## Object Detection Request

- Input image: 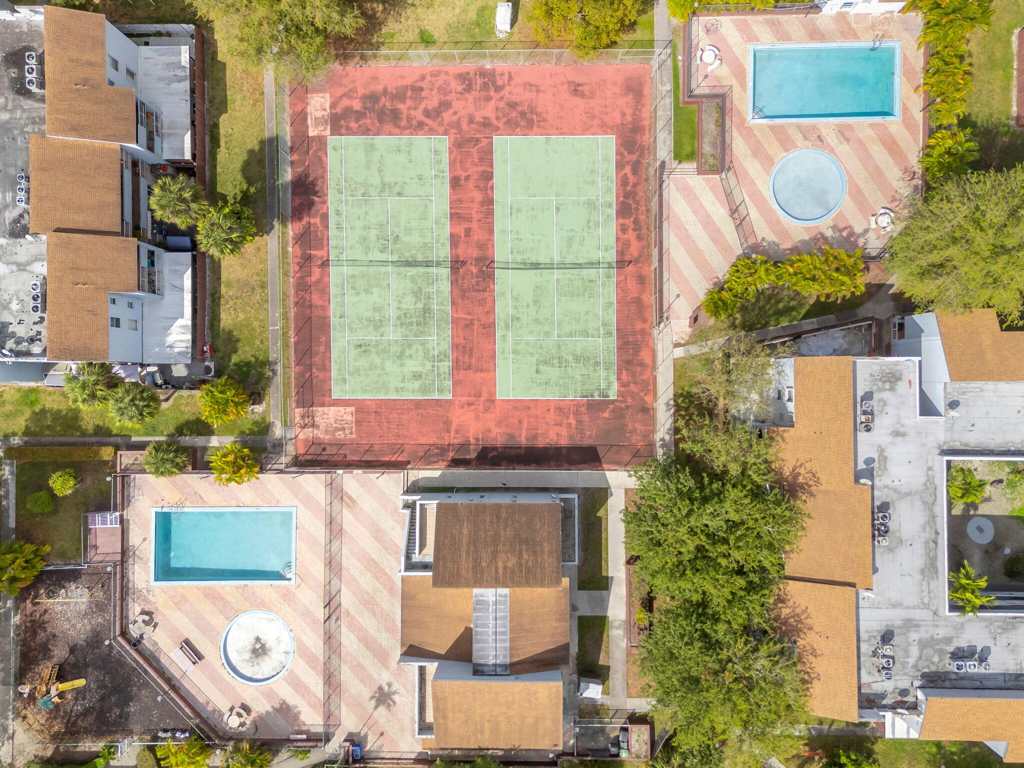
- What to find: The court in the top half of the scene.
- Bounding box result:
[288,64,653,468]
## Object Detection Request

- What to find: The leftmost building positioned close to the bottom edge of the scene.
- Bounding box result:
[396,487,569,750]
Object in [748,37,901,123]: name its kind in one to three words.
swimming pool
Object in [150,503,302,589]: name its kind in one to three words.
swimming pool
